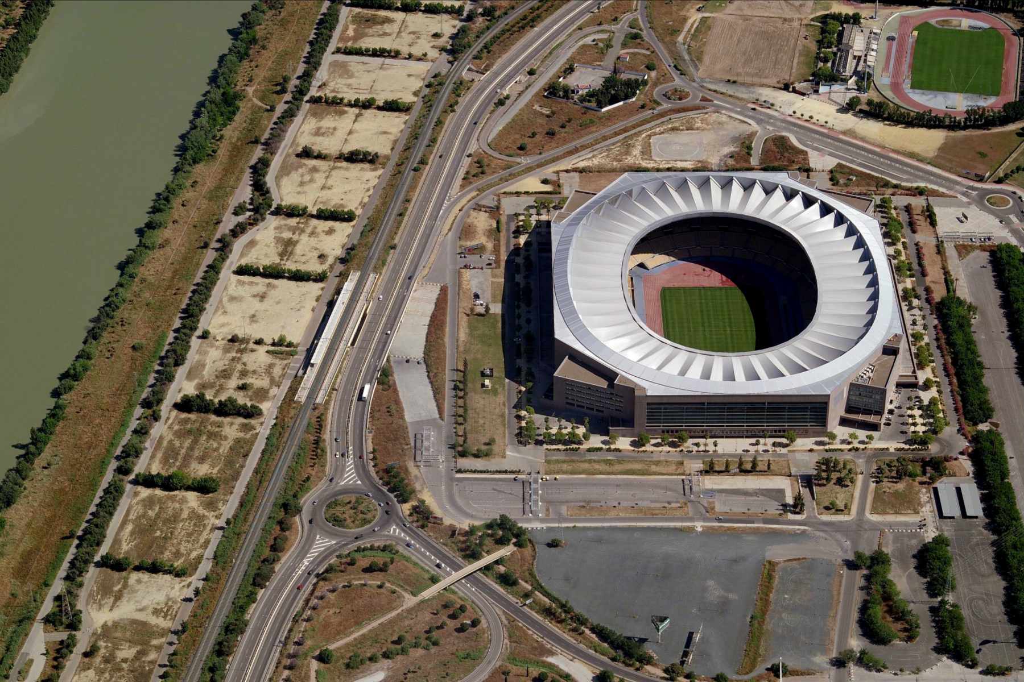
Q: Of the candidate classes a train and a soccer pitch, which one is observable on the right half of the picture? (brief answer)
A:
soccer pitch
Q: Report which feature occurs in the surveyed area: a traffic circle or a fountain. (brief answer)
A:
traffic circle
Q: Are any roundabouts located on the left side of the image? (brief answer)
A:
Yes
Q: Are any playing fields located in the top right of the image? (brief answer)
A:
Yes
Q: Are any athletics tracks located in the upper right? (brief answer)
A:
Yes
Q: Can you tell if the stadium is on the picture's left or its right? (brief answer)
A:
right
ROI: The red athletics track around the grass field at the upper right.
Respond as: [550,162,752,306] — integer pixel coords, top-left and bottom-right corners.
[891,8,1017,117]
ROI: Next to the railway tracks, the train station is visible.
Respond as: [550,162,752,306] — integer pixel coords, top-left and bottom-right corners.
[295,272,379,404]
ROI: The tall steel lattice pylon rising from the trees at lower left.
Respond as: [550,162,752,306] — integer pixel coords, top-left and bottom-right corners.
[56,580,73,627]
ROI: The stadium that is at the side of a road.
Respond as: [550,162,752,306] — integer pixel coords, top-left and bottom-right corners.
[551,171,920,437]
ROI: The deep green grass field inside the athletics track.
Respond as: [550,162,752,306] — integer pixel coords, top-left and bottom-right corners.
[910,22,1005,96]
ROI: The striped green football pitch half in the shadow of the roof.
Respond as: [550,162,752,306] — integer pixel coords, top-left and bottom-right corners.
[659,286,778,351]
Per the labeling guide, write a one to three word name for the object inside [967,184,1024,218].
roundabout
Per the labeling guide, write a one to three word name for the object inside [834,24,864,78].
building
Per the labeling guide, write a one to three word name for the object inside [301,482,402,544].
roundabout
